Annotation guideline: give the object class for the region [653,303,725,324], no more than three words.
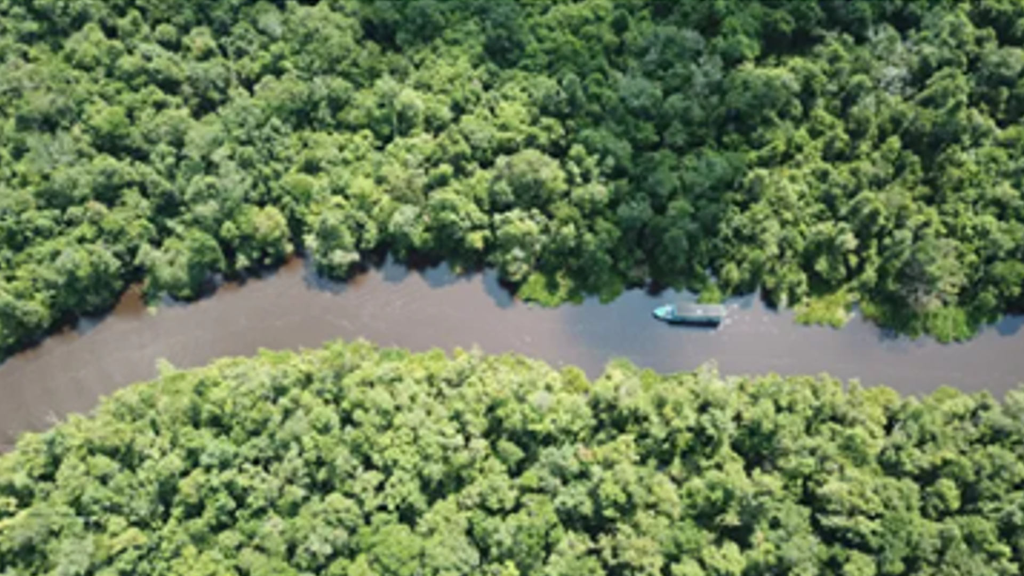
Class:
boat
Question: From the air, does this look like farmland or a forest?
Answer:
forest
